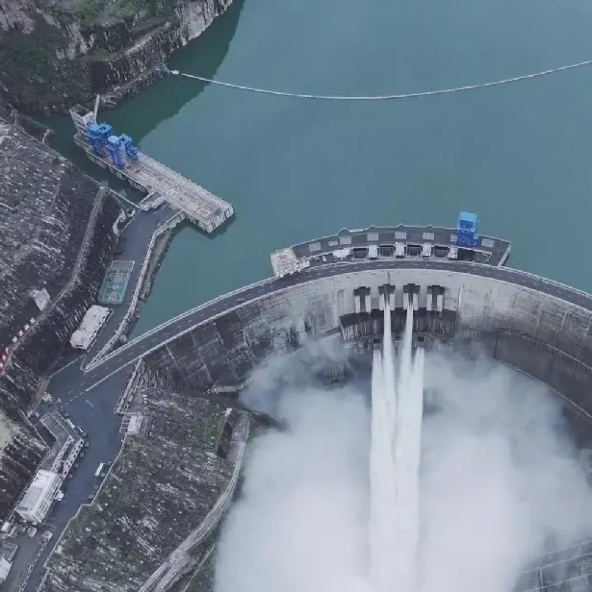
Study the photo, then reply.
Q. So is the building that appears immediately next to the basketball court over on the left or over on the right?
left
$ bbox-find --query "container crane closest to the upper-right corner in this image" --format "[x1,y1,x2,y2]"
[457,218,478,249]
